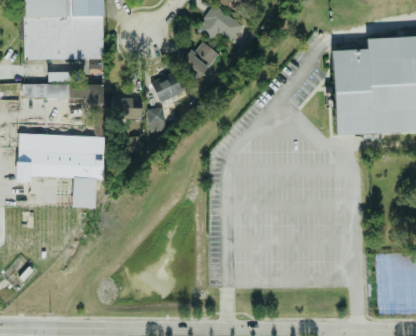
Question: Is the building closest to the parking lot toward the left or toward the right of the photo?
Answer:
right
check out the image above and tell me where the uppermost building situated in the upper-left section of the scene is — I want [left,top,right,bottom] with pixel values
[24,0,104,60]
